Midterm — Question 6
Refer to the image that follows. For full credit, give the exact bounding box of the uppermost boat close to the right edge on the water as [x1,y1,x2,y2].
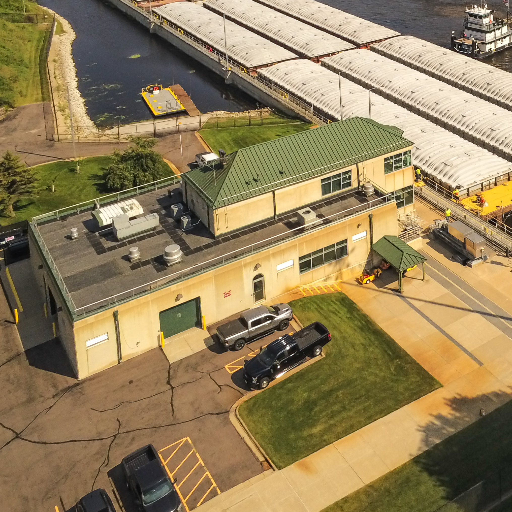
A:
[445,0,512,57]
